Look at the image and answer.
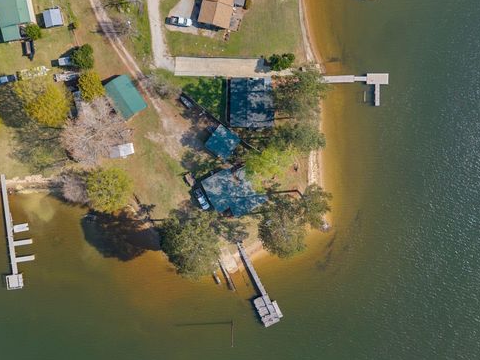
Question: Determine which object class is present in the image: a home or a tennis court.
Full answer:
The image shows a home.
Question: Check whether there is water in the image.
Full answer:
Yes, there is water in the image.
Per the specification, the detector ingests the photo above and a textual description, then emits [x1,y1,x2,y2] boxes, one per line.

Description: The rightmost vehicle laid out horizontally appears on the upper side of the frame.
[165,16,194,28]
